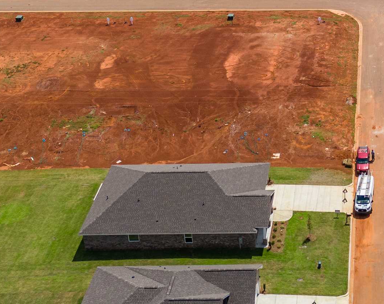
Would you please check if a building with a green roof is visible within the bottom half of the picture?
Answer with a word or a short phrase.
No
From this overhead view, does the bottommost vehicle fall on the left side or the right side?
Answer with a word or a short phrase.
right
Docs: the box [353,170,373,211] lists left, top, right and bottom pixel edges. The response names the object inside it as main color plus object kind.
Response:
white vehicle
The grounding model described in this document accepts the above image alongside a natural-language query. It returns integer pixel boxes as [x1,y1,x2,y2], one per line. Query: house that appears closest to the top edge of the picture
[78,163,280,252]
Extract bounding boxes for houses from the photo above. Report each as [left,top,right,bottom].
[78,163,280,252]
[81,265,262,304]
